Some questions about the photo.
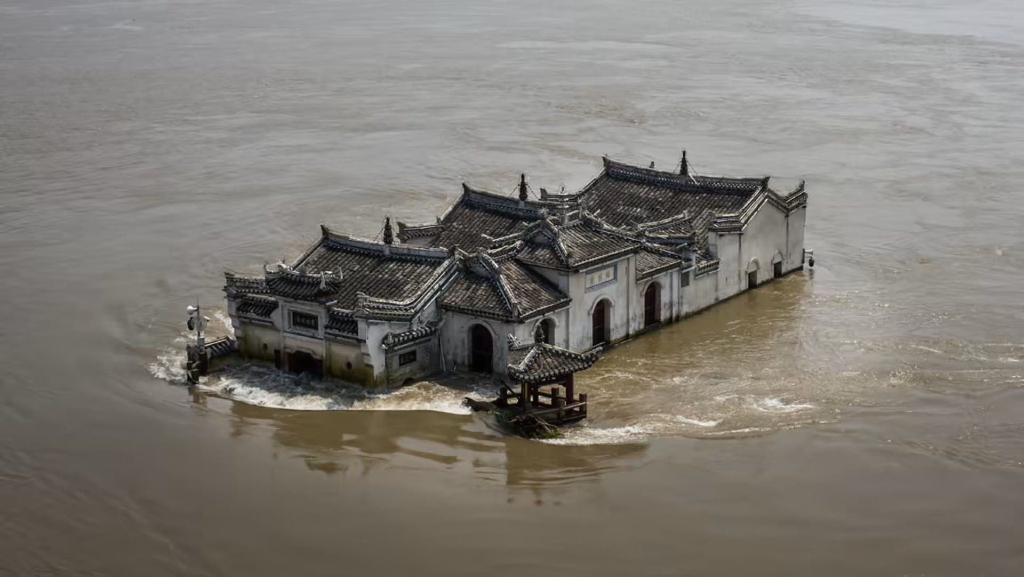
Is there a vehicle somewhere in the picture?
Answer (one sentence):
No, the photo shows no vehicle.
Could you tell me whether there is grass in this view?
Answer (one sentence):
No, no grass is visible.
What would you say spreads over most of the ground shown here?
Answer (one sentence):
The scene is dominated by water.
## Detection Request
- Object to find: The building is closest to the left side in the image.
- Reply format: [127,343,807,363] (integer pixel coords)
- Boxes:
[221,213,478,394]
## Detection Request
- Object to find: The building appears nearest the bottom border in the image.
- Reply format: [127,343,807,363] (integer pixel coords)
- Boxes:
[496,323,607,435]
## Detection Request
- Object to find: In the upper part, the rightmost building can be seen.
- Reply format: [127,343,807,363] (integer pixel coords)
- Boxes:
[543,150,808,300]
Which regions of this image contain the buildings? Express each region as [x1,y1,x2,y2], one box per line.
[221,213,478,394]
[496,323,607,435]
[543,150,808,300]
